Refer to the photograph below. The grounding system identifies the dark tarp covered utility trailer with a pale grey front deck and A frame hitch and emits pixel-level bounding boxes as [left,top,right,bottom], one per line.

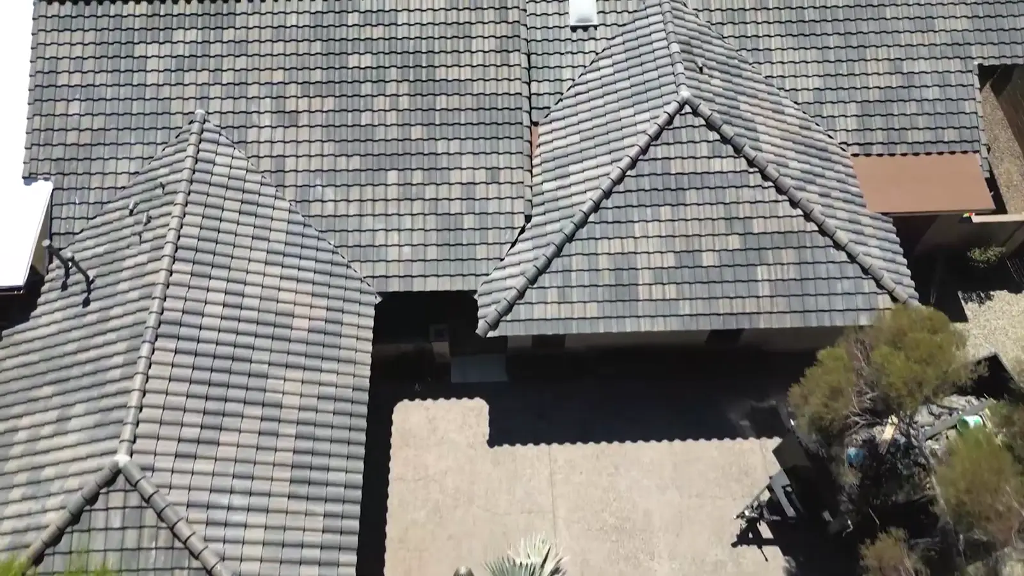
[732,424,865,524]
